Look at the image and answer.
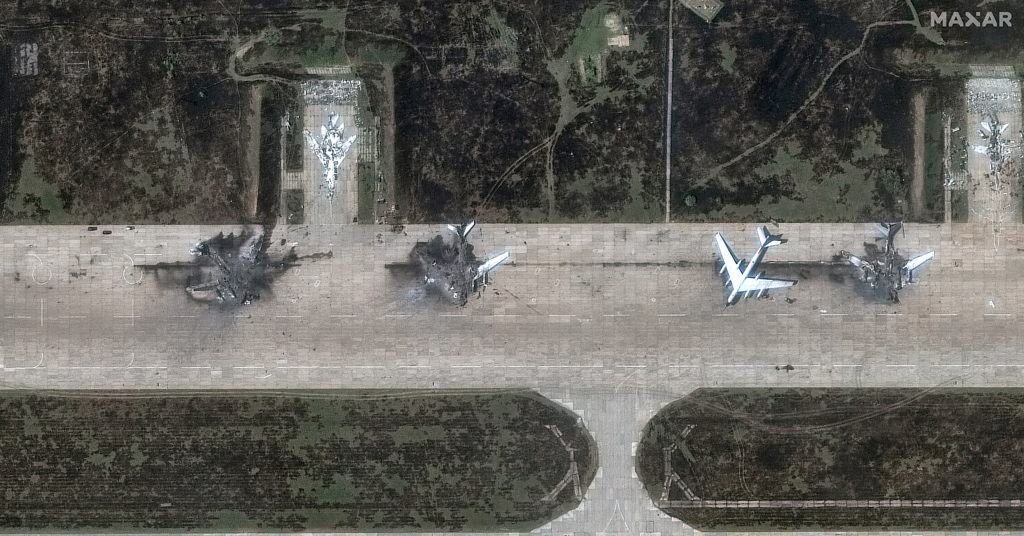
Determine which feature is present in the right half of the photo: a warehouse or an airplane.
airplane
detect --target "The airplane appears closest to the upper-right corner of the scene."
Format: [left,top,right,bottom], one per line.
[973,112,1024,188]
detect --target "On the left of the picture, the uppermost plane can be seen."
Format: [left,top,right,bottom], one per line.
[303,112,357,202]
